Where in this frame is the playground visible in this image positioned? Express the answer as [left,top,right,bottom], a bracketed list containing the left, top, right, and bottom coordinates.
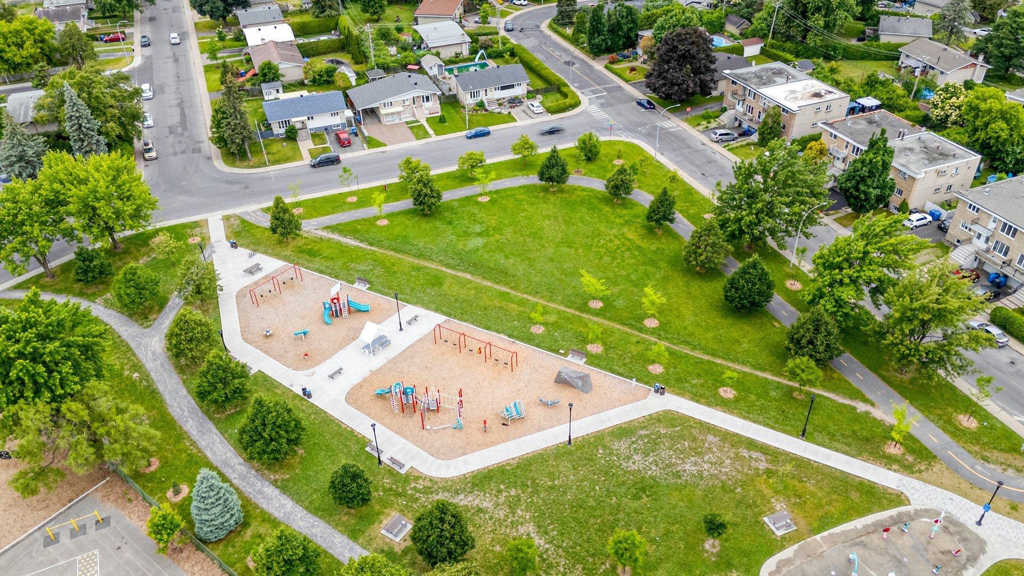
[285,264,654,389]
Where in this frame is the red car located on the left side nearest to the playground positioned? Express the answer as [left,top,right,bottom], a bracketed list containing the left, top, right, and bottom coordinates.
[336,132,351,145]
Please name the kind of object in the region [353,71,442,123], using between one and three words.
house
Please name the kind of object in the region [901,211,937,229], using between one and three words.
car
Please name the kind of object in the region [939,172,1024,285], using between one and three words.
building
